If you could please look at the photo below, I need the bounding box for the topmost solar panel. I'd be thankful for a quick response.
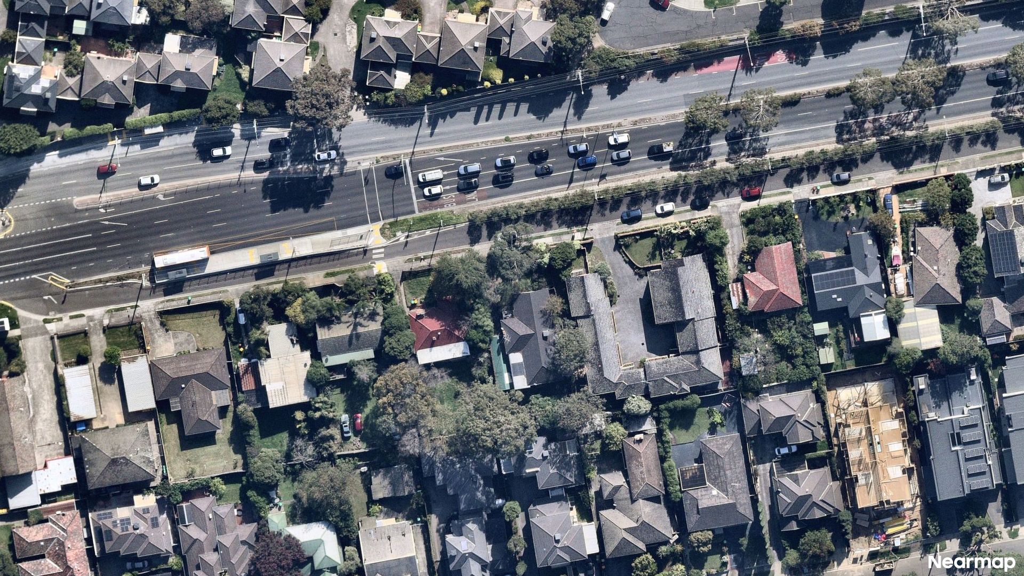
[990,230,1020,273]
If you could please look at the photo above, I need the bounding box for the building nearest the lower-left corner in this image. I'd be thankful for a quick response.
[12,510,94,576]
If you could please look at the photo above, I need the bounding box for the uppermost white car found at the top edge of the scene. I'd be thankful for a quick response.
[600,2,614,23]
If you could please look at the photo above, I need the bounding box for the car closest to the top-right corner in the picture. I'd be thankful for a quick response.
[987,71,1007,83]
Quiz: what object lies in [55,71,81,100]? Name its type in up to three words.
building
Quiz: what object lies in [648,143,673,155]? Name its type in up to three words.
vehicle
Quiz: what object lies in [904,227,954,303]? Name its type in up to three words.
house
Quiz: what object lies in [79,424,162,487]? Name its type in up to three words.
house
